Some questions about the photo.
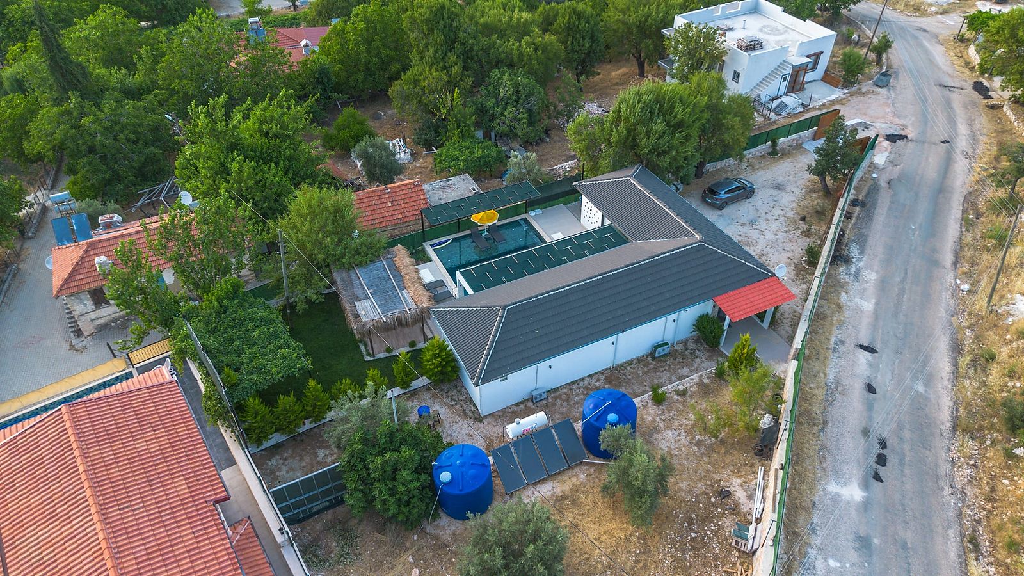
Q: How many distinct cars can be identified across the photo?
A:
1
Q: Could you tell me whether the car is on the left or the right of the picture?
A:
right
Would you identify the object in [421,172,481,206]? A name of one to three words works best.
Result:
shed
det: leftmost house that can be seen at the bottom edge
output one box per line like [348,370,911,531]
[0,368,250,576]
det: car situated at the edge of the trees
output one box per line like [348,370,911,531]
[695,172,760,211]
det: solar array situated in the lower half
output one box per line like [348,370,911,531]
[491,409,612,496]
